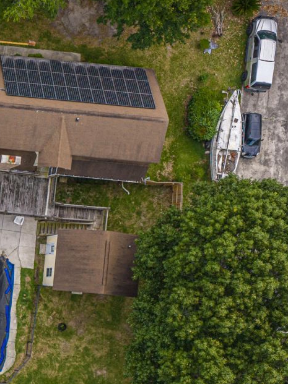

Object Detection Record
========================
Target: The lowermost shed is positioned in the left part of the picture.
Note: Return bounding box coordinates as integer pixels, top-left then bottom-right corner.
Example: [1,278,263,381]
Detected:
[42,227,142,298]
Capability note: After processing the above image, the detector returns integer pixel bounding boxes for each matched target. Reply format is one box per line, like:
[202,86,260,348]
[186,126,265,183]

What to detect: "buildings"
[42,227,142,298]
[0,55,167,201]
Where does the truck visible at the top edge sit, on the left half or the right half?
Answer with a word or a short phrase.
right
